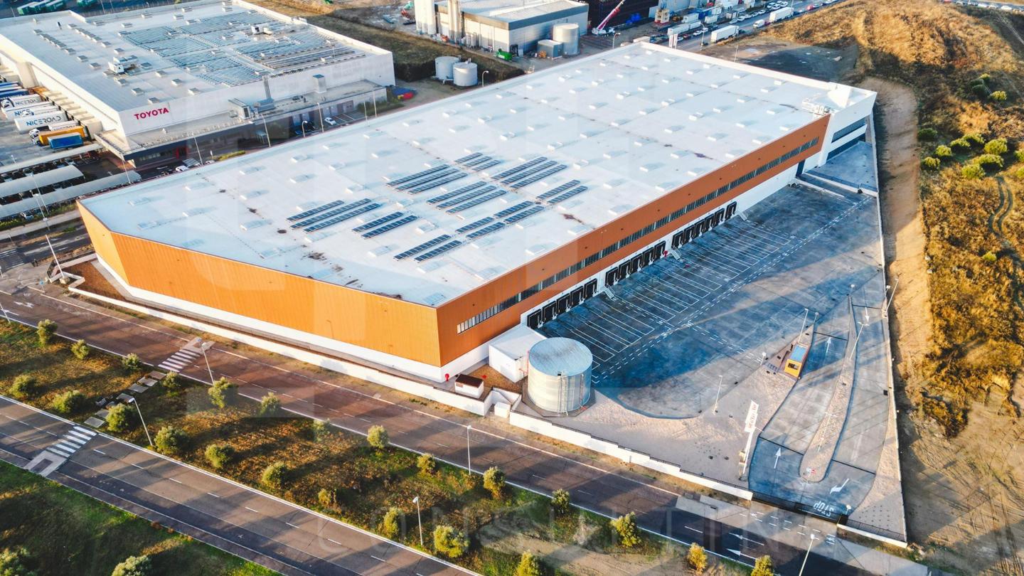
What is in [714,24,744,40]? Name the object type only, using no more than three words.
vehicle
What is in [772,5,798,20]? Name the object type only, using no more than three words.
vehicle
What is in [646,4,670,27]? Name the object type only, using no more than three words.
building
